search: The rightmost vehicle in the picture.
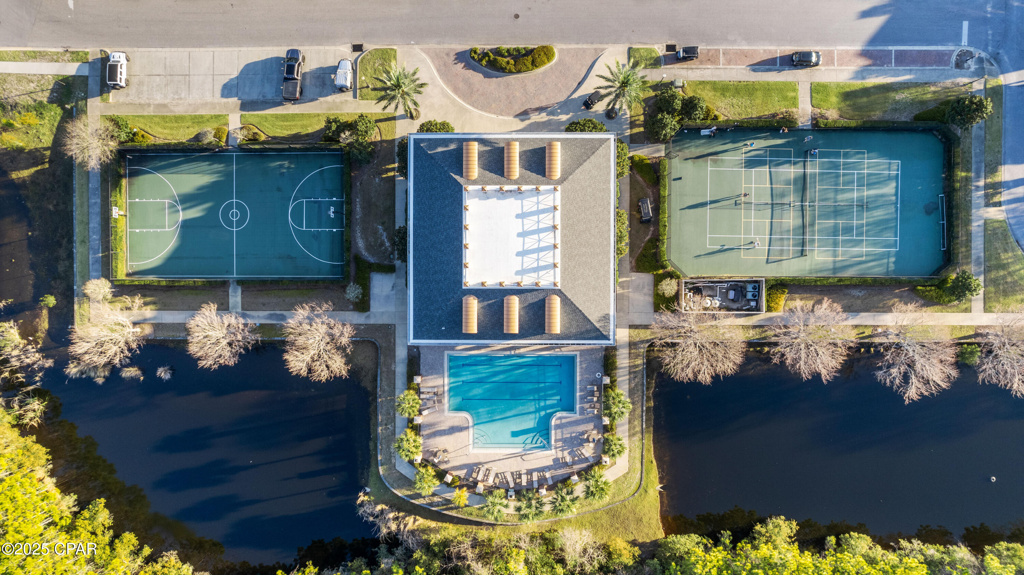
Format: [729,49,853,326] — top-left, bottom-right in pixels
[789,51,821,69]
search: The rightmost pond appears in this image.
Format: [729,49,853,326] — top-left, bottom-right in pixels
[653,352,1024,547]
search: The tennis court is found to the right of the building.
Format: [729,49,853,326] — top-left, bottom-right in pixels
[665,128,944,276]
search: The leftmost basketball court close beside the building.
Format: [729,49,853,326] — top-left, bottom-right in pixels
[125,148,346,280]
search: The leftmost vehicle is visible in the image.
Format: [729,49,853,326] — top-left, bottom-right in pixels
[108,52,131,89]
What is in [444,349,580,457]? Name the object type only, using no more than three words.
swimming pool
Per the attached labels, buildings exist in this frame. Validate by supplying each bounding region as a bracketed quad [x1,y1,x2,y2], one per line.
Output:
[408,133,616,345]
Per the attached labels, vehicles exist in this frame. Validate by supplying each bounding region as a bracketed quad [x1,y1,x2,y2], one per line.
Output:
[108,52,131,89]
[283,51,305,103]
[579,91,601,111]
[637,197,652,220]
[336,61,356,96]
[789,51,821,69]
[677,45,700,61]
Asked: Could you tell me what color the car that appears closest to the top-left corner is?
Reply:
white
